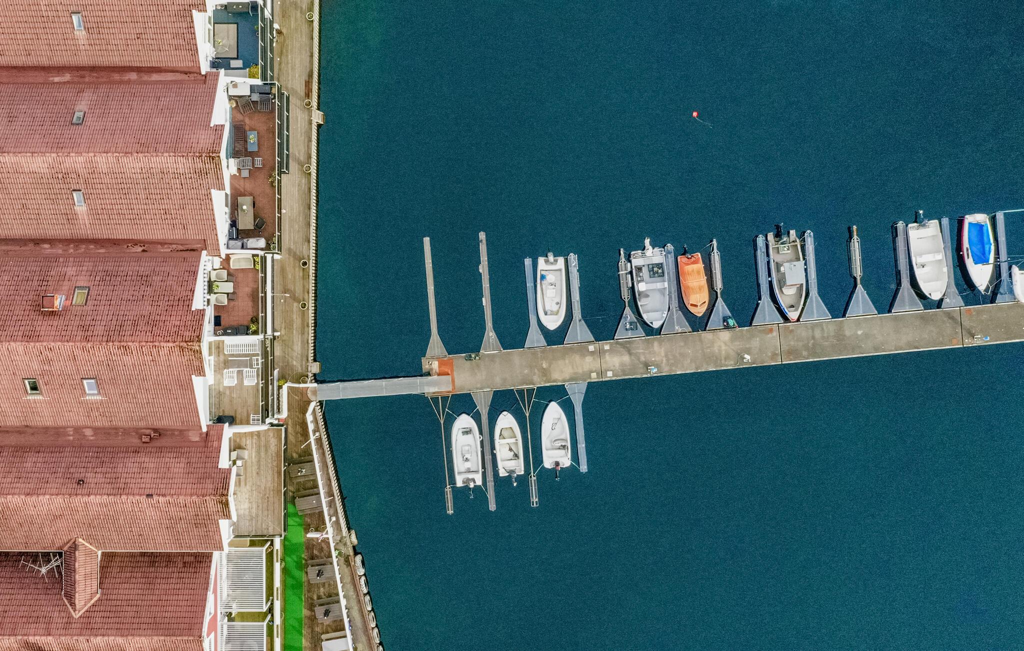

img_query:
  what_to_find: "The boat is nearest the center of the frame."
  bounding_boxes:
[536,249,566,330]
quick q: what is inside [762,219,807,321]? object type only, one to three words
boat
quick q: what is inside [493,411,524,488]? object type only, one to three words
boat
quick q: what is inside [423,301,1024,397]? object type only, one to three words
pier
